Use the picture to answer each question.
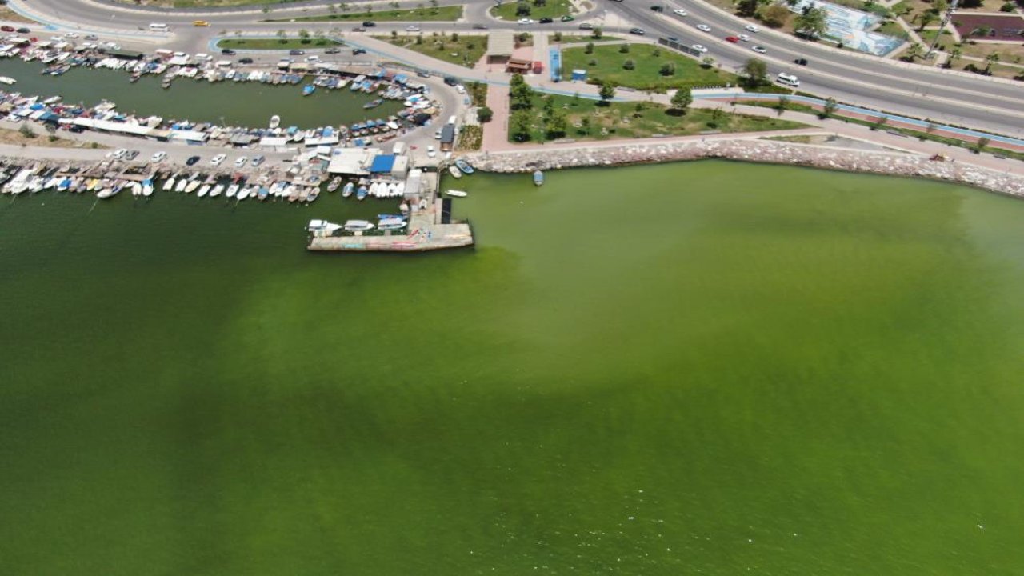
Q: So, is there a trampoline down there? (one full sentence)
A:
No, no trampoline is visible in the view.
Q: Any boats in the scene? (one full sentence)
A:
Yes, there's a boat down there.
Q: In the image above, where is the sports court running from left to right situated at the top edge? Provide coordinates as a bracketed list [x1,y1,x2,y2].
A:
[952,14,1024,45]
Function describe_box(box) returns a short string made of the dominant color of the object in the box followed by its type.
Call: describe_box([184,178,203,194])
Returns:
white boat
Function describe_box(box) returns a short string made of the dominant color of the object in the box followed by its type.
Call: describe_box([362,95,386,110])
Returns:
gray boat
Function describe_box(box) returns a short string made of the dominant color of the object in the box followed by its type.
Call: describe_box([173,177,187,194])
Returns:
white boat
